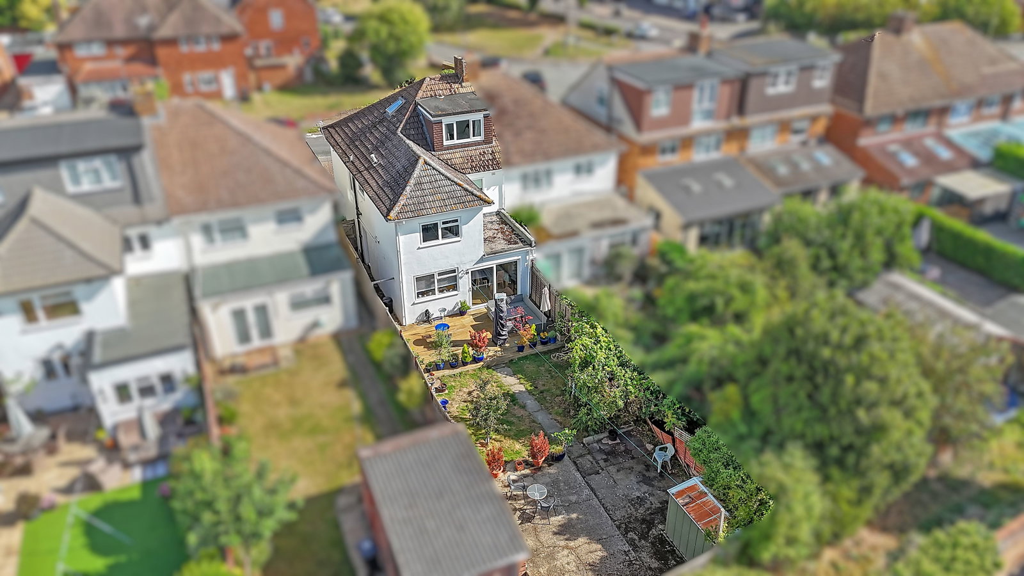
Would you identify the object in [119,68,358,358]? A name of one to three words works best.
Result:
house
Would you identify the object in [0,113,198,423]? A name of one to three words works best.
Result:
house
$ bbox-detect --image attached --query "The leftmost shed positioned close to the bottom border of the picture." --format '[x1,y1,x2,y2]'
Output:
[355,423,534,576]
